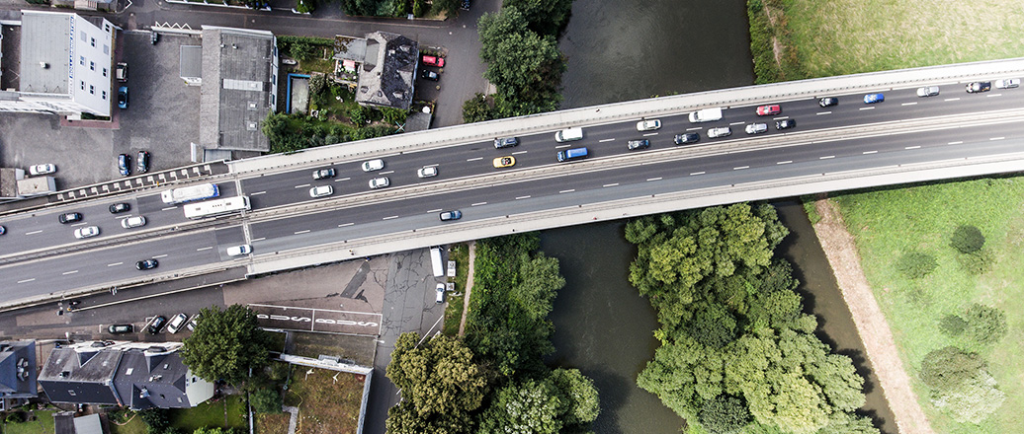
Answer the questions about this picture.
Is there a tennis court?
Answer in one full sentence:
No, the scene contains no tennis court.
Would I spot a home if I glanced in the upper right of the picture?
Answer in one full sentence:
No, there's no home to be seen in the upper right of the picture.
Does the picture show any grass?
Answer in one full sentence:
Yes, the picture does contain grass.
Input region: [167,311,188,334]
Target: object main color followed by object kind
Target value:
white car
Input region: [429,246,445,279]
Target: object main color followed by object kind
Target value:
white vehicle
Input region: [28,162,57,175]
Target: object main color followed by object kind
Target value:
white vehicle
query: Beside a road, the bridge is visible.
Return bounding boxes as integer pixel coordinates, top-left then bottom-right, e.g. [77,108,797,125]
[231,57,1024,277]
